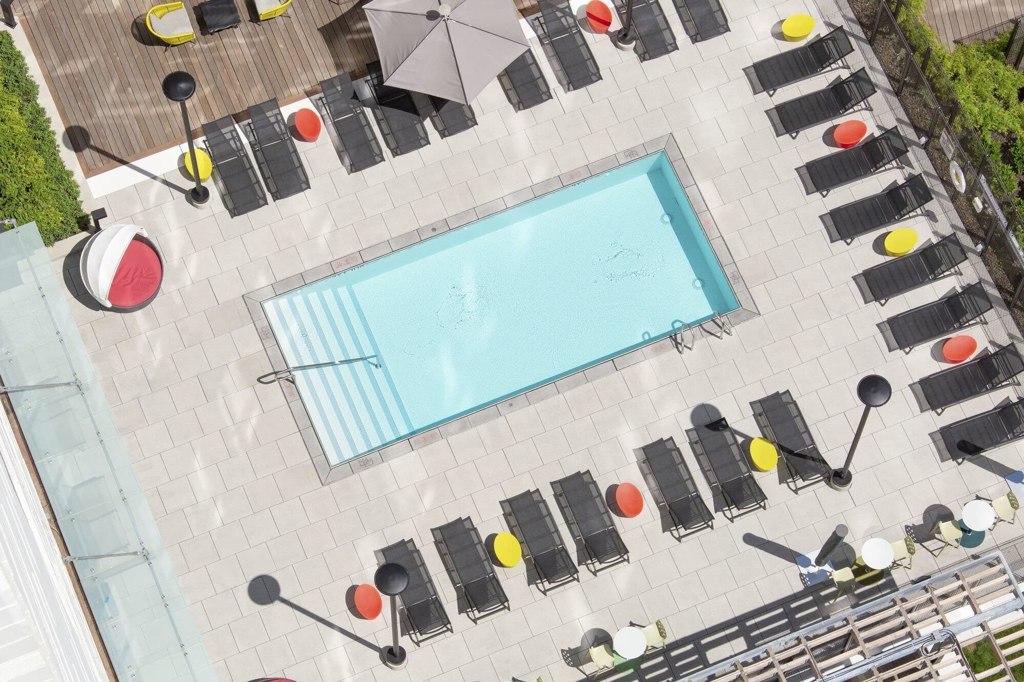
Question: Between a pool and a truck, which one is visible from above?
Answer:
pool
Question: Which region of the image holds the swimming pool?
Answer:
center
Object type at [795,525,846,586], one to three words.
umbrella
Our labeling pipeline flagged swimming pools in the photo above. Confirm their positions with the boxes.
[244,134,758,483]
